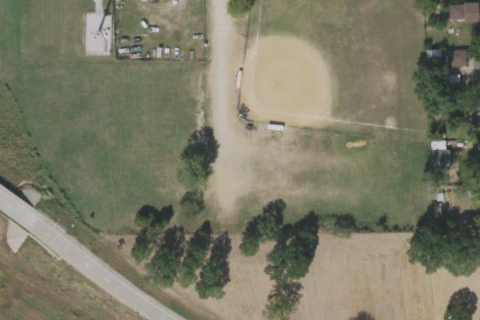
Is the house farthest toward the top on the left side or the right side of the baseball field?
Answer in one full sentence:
The house farthest toward the top appears to the right of the baseball field in this view.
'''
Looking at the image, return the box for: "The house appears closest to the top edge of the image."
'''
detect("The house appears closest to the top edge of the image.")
[450,2,480,22]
